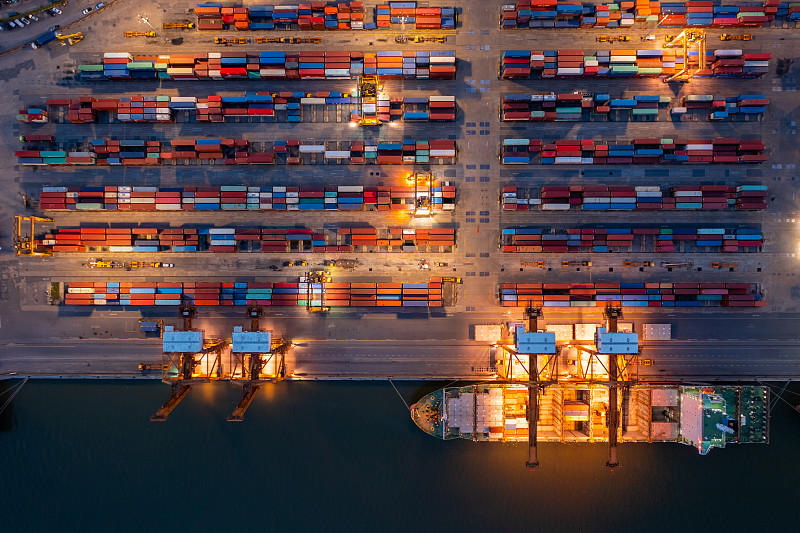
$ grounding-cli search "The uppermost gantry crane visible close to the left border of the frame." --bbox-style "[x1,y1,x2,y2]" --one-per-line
[15,214,62,256]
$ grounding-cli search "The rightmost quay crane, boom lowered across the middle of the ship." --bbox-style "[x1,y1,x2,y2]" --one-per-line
[569,299,642,472]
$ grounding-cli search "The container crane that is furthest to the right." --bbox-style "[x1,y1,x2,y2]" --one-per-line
[662,30,704,82]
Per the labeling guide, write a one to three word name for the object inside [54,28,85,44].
work vehicle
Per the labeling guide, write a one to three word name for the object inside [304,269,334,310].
container crane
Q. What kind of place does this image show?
port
